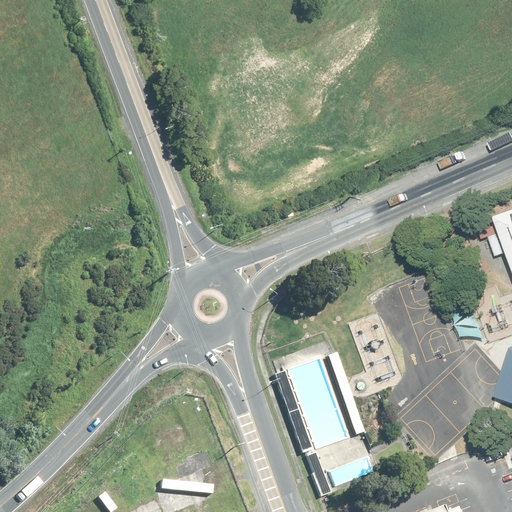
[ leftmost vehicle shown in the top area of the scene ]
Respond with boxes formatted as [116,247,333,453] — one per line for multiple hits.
[387,192,408,206]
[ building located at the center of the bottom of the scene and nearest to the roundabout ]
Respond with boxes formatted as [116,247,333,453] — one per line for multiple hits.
[276,371,312,454]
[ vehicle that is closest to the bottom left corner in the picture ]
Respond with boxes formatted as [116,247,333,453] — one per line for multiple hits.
[16,477,44,502]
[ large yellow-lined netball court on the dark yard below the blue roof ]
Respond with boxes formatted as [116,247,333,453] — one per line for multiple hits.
[402,348,500,456]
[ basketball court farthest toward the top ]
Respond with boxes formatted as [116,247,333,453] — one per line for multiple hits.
[398,275,461,362]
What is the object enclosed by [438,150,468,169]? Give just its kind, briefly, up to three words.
vehicle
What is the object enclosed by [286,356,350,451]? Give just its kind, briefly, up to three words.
swimming pool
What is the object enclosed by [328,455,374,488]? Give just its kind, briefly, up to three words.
swimming pool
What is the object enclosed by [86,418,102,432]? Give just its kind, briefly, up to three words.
car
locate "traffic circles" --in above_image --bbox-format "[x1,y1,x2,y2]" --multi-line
[193,288,228,324]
